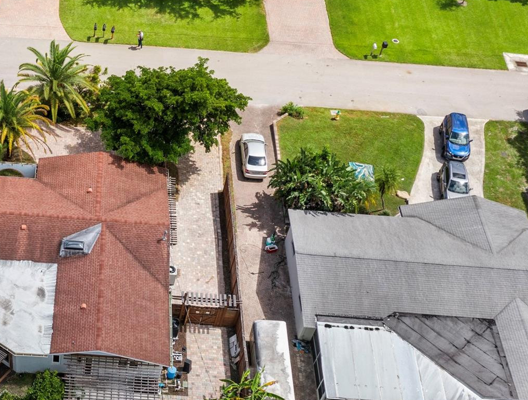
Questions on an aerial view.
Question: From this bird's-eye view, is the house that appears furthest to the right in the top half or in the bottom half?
bottom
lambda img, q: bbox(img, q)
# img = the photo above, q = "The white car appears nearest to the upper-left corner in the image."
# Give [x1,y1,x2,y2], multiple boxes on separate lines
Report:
[242,133,272,181]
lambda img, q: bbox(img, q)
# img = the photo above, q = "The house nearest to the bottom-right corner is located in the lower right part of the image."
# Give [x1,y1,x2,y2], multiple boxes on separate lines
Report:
[285,196,528,400]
